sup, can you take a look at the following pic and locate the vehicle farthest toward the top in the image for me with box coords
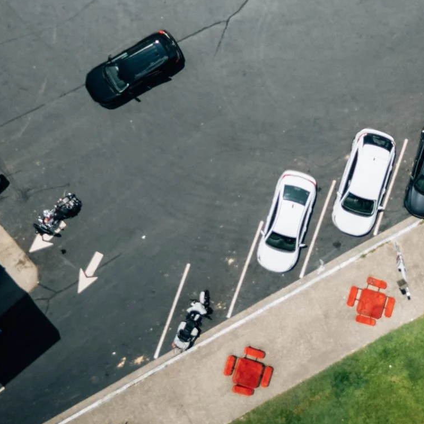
[85,29,185,100]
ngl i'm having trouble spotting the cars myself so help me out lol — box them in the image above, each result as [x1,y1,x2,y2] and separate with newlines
[85,29,185,100]
[335,127,394,235]
[405,121,424,216]
[257,167,317,270]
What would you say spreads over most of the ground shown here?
paved ground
